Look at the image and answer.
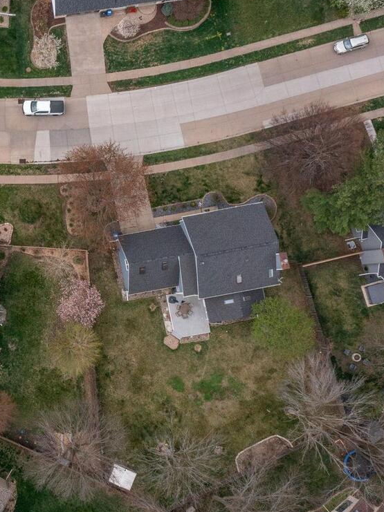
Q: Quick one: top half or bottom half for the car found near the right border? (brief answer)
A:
top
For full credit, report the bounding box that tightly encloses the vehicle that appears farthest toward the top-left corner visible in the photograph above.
[22,99,65,116]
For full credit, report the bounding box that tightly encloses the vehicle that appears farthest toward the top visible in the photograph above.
[331,33,369,55]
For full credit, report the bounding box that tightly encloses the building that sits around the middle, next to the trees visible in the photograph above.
[110,202,290,325]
